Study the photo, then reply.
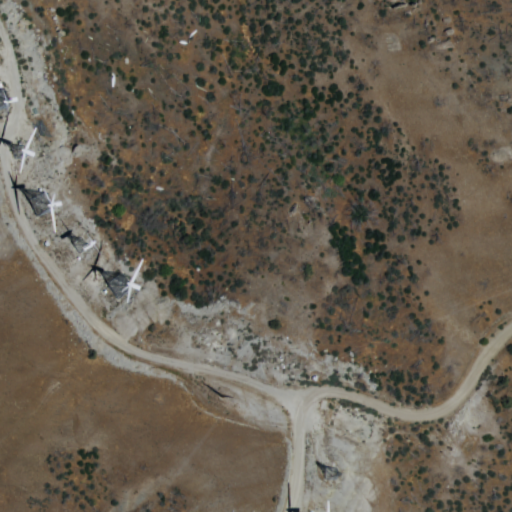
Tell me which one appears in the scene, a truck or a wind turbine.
wind turbine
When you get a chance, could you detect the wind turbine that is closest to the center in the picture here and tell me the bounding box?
[117,260,142,301]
